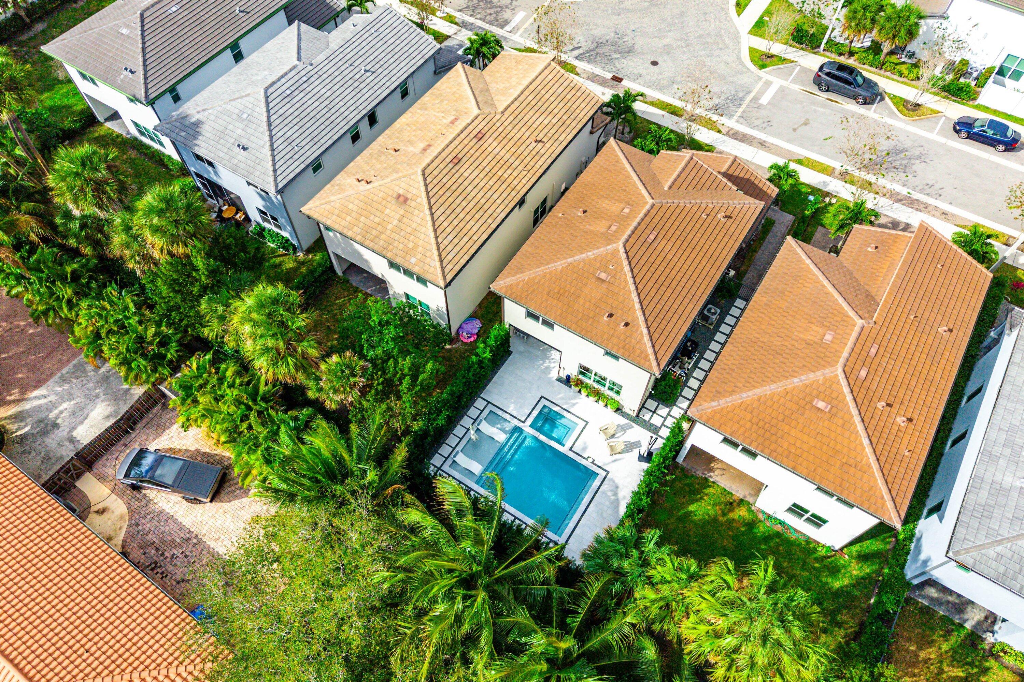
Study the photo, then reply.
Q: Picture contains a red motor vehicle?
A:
No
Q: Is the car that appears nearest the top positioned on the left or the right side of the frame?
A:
right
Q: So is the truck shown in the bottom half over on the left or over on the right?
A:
left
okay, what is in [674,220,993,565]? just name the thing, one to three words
house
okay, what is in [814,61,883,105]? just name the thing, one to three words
car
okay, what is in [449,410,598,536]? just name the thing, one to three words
swimming pool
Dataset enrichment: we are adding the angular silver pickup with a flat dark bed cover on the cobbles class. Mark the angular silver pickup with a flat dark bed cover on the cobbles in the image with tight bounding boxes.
[112,446,223,505]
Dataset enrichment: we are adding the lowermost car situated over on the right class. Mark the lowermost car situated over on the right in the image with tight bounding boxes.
[953,114,1024,151]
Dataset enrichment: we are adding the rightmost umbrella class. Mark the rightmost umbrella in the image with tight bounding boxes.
[635,432,656,468]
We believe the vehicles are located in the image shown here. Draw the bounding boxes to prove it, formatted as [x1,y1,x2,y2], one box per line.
[953,114,1024,151]
[814,61,883,105]
[112,446,223,505]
